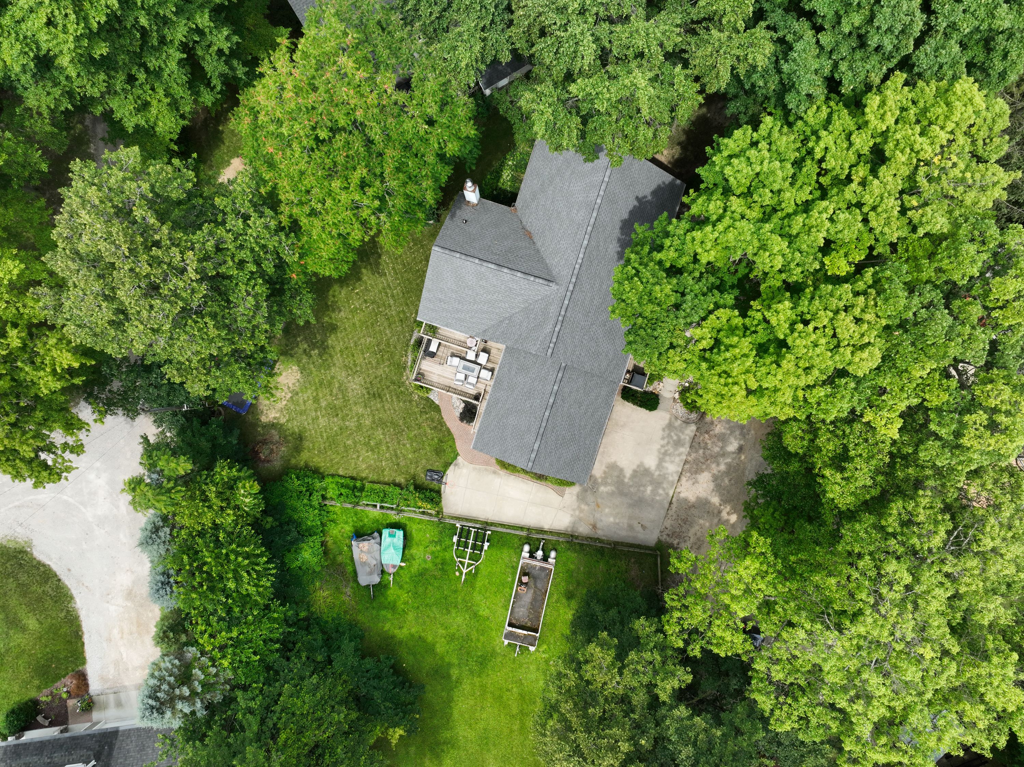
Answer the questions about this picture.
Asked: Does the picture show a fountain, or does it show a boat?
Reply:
boat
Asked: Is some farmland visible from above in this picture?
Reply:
No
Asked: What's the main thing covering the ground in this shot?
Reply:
trees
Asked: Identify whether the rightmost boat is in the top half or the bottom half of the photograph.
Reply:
bottom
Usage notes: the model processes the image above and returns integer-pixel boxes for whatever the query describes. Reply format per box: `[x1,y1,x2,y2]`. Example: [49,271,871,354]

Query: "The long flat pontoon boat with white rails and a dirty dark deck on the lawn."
[502,542,556,656]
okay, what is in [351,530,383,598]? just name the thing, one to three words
boat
